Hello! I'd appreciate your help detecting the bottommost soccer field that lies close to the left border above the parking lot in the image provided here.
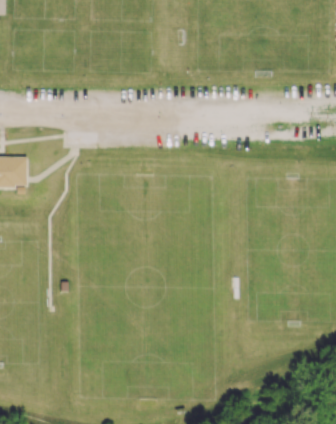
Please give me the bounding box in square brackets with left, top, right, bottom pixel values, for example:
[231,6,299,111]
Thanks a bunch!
[13,30,76,72]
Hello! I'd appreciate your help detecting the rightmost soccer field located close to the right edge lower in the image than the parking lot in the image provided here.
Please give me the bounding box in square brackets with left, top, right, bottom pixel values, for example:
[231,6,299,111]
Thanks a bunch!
[247,178,336,322]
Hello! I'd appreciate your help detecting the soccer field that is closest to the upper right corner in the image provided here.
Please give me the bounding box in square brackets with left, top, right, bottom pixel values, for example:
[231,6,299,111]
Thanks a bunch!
[197,0,330,72]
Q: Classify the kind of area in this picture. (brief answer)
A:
sports ground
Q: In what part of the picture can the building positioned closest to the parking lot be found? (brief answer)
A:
left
